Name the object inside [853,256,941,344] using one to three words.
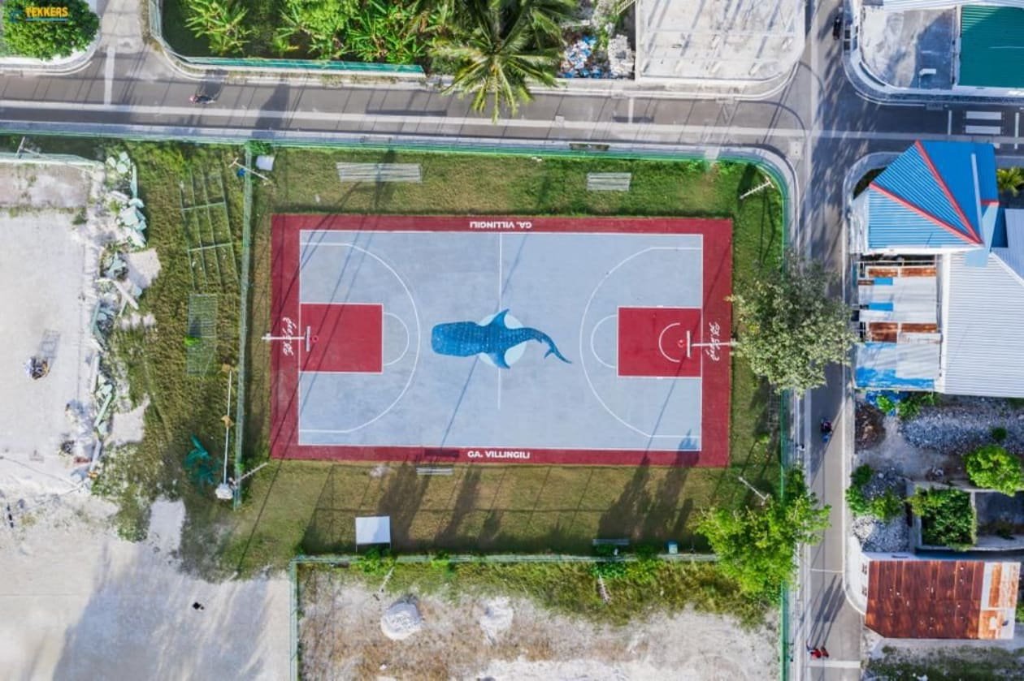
shed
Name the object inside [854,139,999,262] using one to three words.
house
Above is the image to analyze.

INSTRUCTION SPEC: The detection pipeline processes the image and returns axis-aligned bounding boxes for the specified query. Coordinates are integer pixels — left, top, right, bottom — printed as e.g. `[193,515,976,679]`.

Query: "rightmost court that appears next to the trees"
[270,215,732,467]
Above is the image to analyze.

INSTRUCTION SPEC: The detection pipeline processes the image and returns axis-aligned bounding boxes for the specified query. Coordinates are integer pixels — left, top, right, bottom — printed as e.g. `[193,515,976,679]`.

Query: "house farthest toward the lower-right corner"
[852,553,1022,640]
